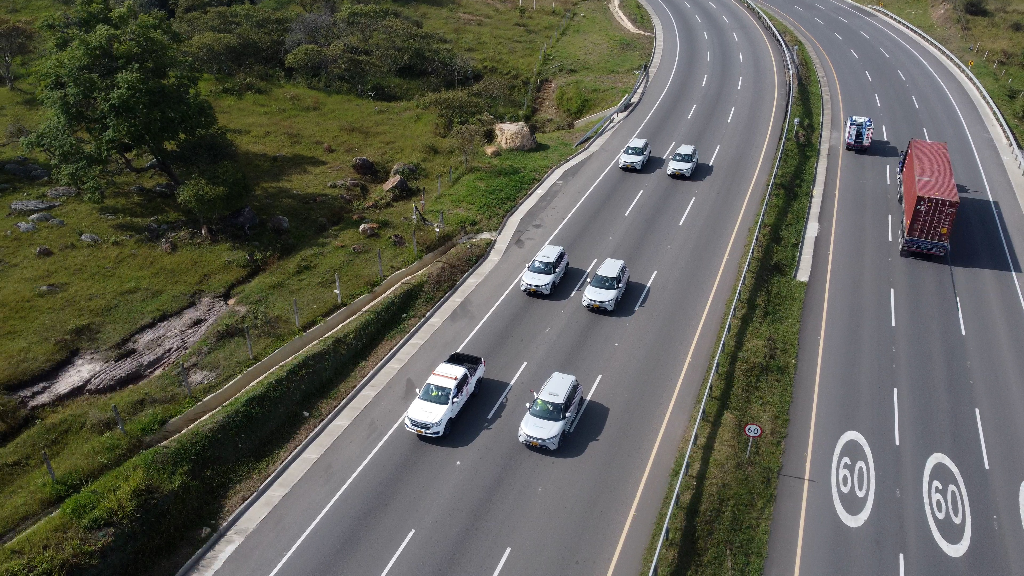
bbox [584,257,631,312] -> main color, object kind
white car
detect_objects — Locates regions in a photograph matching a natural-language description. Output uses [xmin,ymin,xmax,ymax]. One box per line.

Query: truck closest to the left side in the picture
[405,354,486,440]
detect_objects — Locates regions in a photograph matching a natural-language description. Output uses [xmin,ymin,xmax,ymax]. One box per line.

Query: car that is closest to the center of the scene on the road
[522,243,570,296]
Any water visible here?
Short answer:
No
